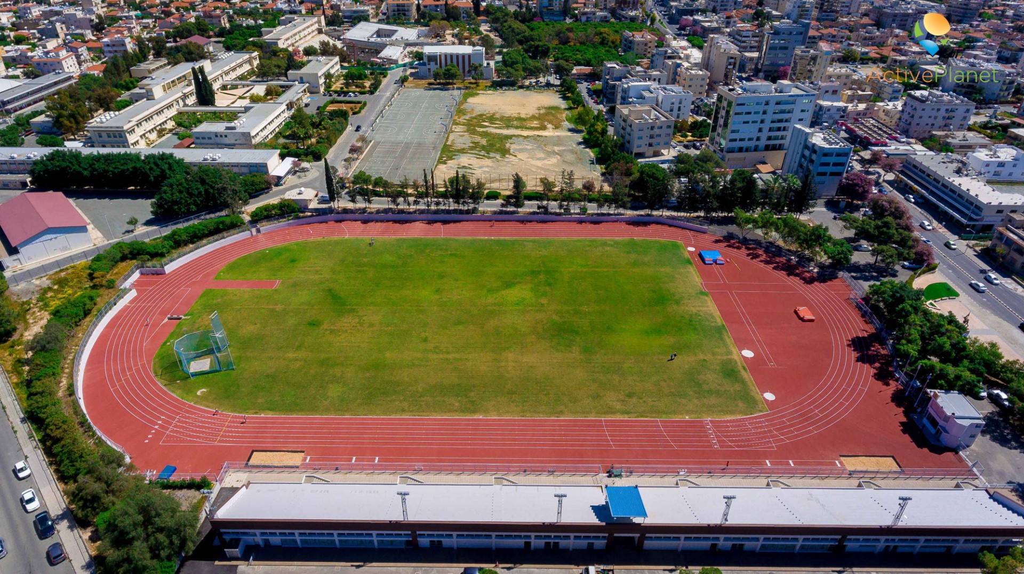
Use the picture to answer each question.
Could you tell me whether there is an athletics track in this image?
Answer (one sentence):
Yes, you can see an athletics track in this photo.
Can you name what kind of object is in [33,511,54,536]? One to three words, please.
car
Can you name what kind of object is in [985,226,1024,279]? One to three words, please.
house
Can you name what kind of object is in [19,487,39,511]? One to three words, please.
car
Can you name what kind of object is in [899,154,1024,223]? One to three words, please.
building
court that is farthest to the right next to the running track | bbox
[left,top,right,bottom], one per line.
[356,88,464,183]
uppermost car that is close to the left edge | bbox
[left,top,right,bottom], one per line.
[12,458,31,479]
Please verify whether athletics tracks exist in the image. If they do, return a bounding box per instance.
[82,220,978,480]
